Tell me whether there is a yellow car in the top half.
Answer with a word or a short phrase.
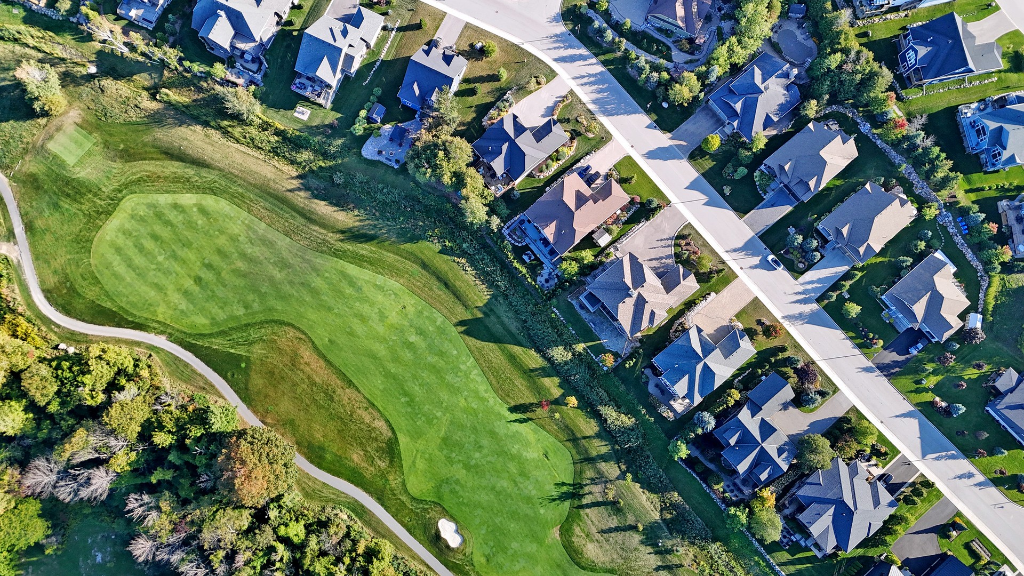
No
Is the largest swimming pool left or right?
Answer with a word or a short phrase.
right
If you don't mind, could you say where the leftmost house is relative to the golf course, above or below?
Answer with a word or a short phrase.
above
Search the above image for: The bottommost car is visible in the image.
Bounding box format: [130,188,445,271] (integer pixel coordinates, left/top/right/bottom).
[878,469,899,487]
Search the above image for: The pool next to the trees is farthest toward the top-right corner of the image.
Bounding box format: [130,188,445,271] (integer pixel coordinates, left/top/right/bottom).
[776,27,814,64]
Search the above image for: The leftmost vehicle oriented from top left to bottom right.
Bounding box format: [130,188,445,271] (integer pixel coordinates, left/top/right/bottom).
[765,252,784,272]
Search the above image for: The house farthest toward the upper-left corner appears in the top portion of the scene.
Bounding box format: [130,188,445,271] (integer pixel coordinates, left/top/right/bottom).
[115,0,170,30]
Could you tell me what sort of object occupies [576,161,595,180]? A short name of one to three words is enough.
vehicle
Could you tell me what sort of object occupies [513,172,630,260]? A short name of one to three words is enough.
house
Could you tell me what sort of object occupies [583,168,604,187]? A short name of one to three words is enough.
car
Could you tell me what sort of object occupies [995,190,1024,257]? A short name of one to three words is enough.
house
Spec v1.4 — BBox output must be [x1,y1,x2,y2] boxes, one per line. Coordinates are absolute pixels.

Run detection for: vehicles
[878,469,899,487]
[576,161,595,180]
[583,168,604,187]
[907,336,931,356]
[765,252,784,272]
